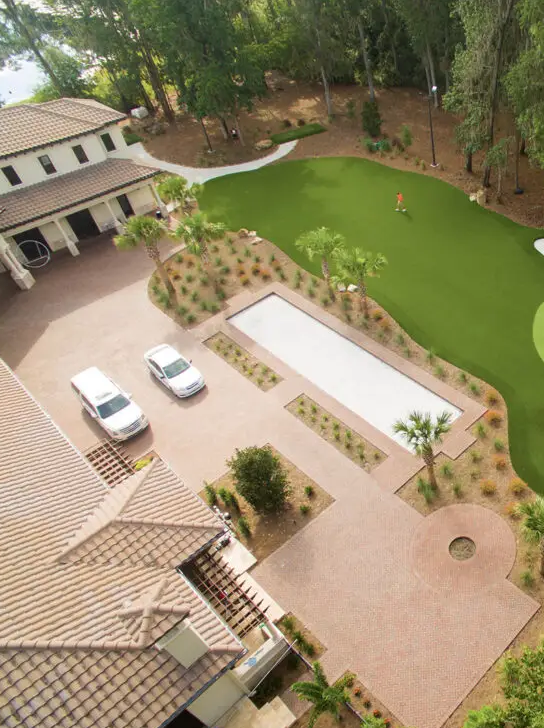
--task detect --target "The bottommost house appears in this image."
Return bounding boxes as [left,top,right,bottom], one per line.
[0,359,255,728]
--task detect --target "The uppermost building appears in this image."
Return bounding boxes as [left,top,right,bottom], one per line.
[0,95,173,269]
